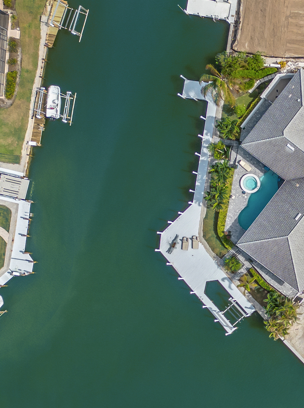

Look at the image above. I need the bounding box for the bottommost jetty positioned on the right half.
[154,75,256,336]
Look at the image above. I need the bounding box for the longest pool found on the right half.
[238,171,284,229]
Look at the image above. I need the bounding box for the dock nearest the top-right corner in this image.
[178,0,234,24]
